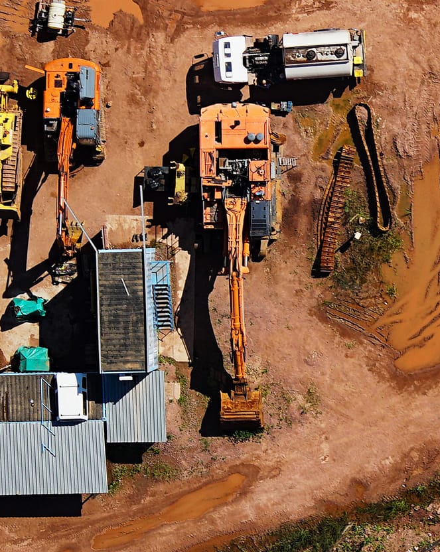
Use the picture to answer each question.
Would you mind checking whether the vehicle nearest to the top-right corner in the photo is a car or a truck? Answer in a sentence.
Specifically, the vehicle nearest to the top-right corner is a truck.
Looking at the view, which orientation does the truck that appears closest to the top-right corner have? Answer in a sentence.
Seen from above, the truck that appears closest to the top-right corner lies from side to side.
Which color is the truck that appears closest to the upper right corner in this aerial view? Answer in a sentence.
The truck that appears closest to the upper right corner is white.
